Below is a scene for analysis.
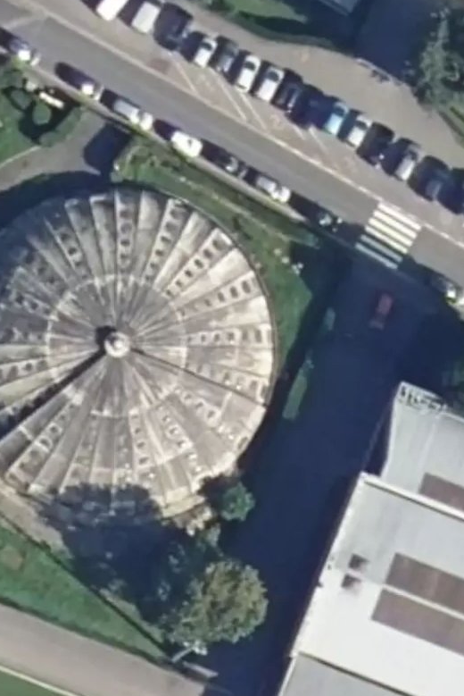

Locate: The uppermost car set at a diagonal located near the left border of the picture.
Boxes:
[1,33,41,64]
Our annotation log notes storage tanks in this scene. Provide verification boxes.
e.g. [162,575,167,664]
[0,190,280,533]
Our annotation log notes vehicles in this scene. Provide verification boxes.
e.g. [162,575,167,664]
[1,33,41,64]
[322,100,352,136]
[206,145,247,177]
[389,142,417,179]
[304,201,343,233]
[111,95,152,129]
[166,128,206,160]
[255,63,286,104]
[94,0,120,23]
[213,39,240,76]
[295,89,327,130]
[233,52,262,93]
[347,115,375,151]
[415,159,444,200]
[251,171,291,203]
[131,0,164,38]
[442,171,464,214]
[276,76,305,118]
[160,7,191,50]
[363,125,393,165]
[61,65,102,97]
[191,33,220,70]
